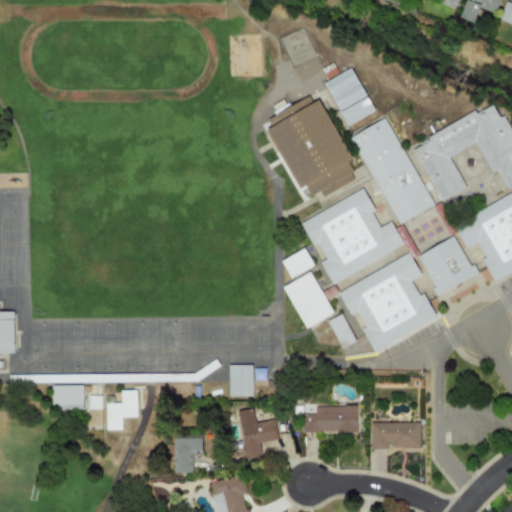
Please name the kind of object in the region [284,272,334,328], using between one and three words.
building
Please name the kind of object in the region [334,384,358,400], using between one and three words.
swimming pool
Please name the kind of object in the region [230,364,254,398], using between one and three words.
shed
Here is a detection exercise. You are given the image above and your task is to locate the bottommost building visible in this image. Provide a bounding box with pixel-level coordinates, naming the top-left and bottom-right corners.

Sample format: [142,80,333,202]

[212,479,248,512]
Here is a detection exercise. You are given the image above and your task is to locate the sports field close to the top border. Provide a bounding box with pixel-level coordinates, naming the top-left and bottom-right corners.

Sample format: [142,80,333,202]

[36,24,205,87]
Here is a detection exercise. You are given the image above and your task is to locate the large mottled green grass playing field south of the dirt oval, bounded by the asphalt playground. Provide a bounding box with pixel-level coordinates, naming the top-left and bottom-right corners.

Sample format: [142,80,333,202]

[30,108,272,316]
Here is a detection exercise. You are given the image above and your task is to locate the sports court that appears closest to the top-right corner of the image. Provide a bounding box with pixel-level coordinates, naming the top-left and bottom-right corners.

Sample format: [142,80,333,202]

[282,29,324,81]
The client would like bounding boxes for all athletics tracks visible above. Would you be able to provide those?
[2,1,228,106]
